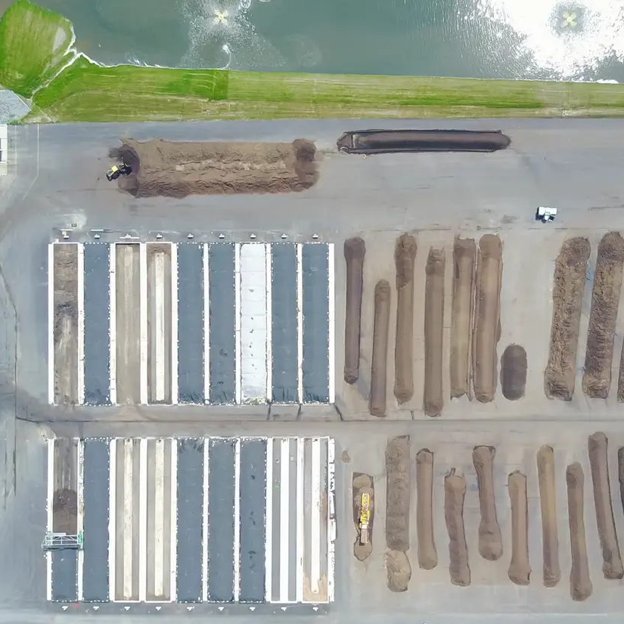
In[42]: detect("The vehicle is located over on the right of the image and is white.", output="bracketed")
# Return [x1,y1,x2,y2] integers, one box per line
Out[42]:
[538,207,559,220]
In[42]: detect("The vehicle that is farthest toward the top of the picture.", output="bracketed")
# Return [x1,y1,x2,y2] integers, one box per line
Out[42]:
[104,162,126,178]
